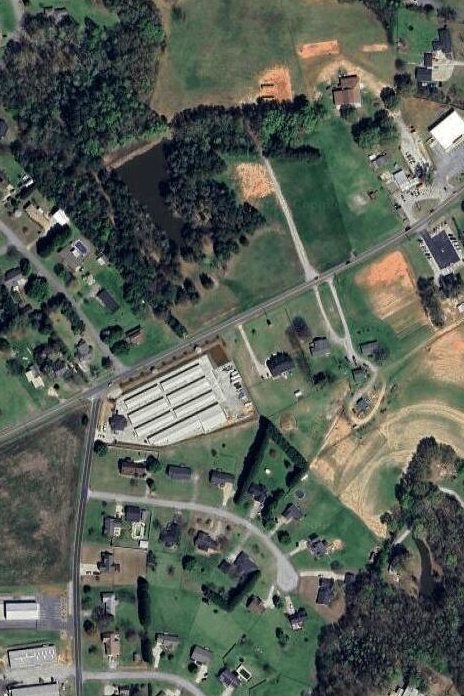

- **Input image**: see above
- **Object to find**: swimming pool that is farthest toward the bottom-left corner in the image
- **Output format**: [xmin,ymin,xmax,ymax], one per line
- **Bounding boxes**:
[132,521,145,539]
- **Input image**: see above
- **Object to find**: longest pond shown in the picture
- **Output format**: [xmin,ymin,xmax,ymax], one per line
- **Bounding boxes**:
[118,145,187,249]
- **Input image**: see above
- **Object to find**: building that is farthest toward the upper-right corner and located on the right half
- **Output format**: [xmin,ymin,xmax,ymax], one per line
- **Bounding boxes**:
[433,27,454,53]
